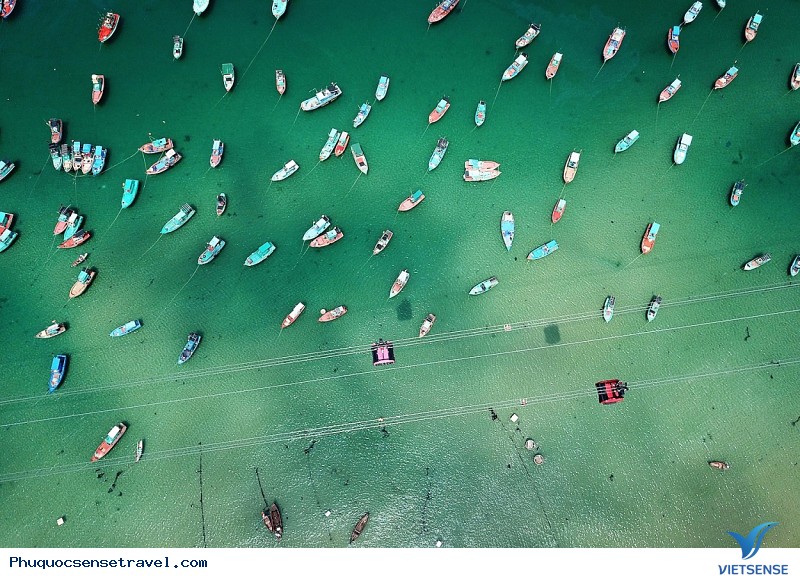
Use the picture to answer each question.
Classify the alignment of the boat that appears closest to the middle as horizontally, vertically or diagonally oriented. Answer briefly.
diagonally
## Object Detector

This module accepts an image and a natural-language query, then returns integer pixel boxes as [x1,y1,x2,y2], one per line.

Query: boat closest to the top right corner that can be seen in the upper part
[745,5,767,43]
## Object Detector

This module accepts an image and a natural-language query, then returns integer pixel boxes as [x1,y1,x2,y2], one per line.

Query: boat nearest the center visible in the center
[389,268,413,298]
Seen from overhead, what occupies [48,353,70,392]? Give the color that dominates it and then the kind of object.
blue boat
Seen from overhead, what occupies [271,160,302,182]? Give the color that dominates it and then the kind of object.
white boat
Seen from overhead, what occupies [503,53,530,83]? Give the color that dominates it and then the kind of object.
white boat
